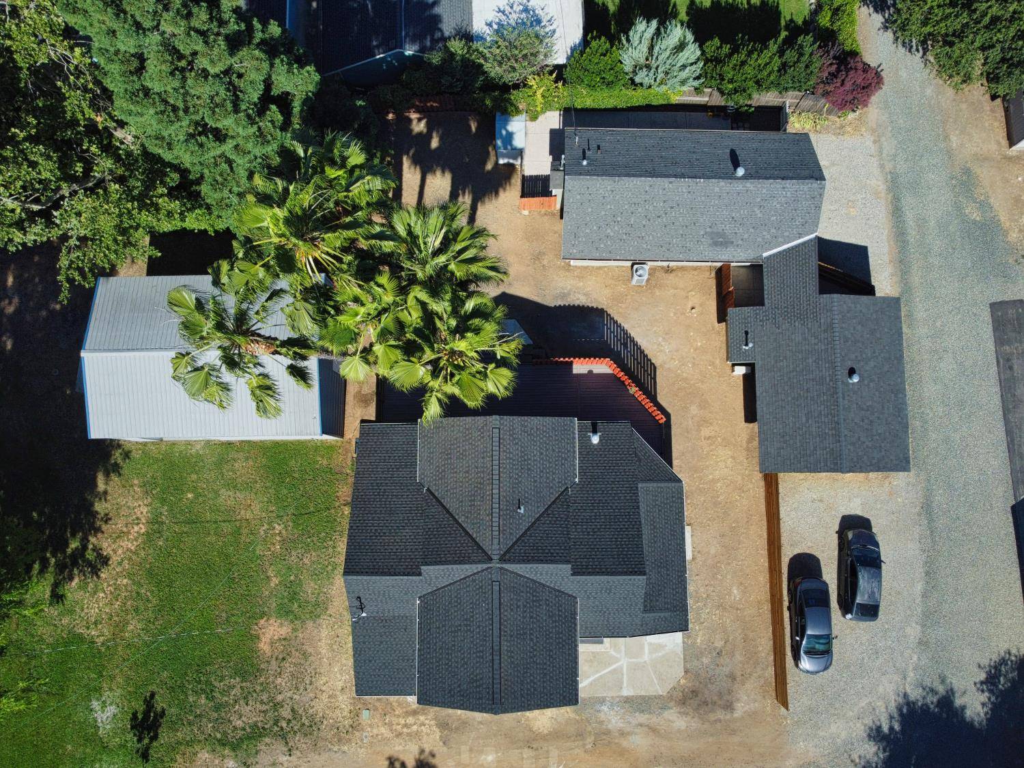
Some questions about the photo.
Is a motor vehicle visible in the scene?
Yes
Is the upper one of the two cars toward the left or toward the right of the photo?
right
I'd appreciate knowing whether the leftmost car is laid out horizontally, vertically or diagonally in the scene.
vertically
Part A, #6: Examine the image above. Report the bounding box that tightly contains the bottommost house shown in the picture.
[343,416,693,715]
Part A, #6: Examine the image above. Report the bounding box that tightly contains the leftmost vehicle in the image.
[787,575,841,678]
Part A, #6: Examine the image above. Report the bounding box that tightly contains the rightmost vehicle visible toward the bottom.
[837,528,890,624]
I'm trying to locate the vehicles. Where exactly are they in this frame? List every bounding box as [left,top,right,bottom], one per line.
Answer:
[787,575,841,678]
[837,528,890,624]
